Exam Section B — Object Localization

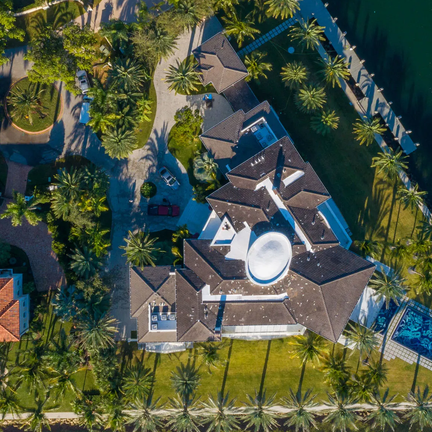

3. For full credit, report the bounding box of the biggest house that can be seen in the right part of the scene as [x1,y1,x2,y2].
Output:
[130,100,407,353]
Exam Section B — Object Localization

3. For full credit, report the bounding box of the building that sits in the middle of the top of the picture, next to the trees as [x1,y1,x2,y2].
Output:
[192,31,250,93]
